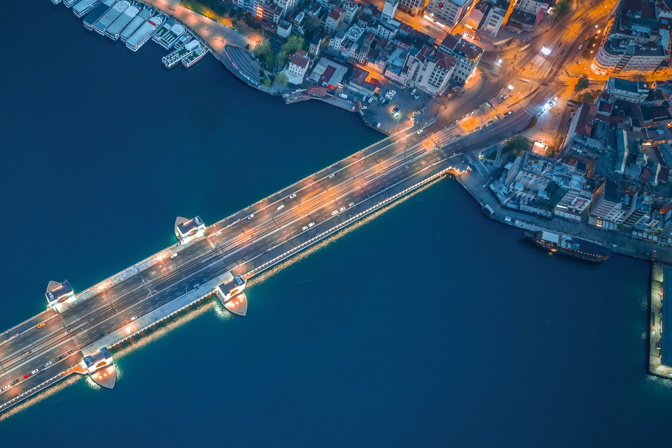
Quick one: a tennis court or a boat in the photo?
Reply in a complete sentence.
The one in the frame is a boat.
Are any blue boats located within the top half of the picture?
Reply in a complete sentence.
Yes, you'll find a blue boat within the top half of the picture.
